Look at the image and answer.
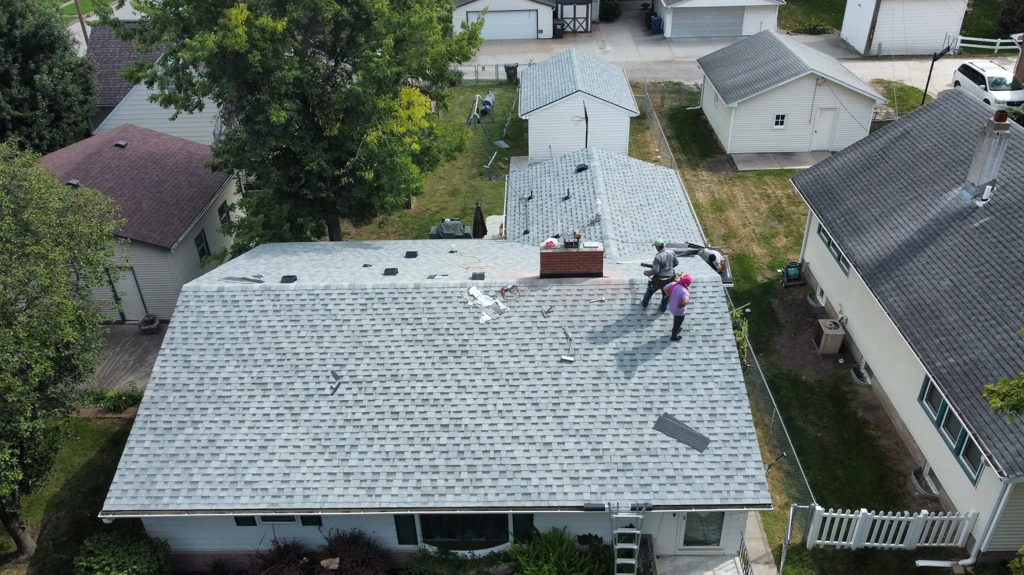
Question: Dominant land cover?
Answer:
buildings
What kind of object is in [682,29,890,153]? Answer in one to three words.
building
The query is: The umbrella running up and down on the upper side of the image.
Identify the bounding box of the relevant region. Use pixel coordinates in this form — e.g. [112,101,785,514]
[469,187,487,236]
